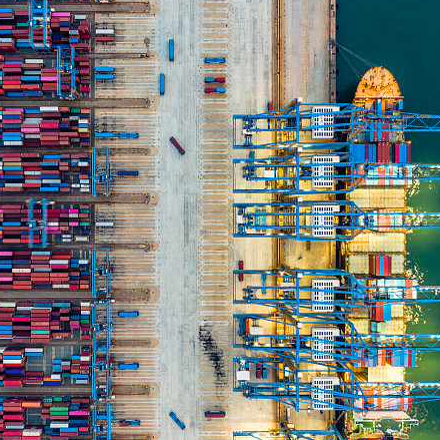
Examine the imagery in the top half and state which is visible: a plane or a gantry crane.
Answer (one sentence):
It is a gantry crane that can be seen in the top half.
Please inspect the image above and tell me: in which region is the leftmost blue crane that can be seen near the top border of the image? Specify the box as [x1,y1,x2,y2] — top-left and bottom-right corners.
[23,0,55,54]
